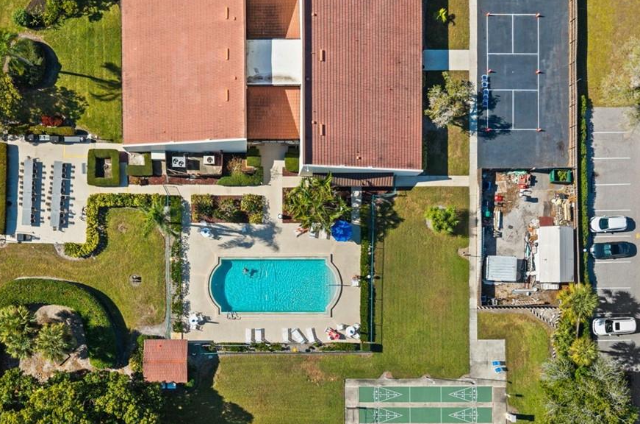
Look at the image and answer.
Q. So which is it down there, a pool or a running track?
pool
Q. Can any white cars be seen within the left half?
No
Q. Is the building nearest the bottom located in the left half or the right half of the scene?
left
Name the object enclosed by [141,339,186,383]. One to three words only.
building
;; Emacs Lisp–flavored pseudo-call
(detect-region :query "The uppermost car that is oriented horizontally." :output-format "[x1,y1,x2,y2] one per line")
[587,215,630,234]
